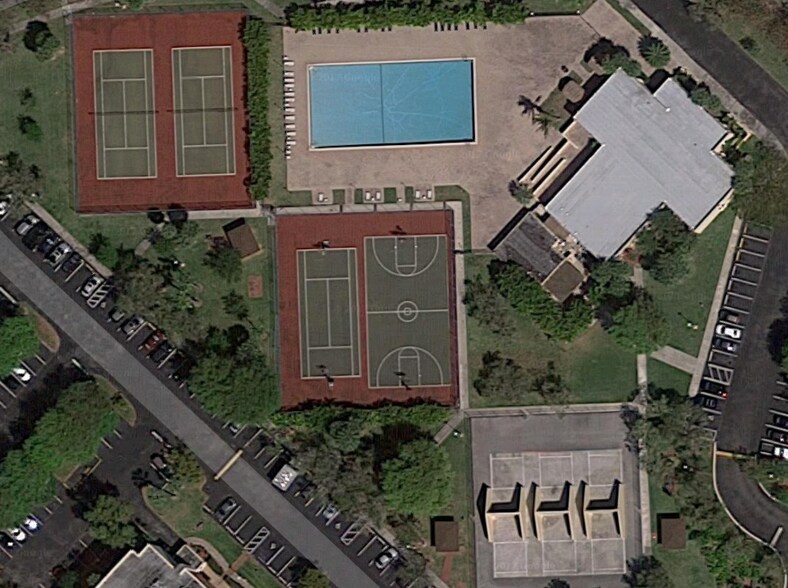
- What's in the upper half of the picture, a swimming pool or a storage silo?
swimming pool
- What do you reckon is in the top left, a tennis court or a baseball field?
tennis court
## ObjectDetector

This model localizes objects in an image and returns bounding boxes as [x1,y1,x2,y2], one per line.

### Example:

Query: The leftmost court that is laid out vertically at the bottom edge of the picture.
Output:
[486,453,527,577]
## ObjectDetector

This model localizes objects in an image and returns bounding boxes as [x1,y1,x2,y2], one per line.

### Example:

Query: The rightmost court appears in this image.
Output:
[583,449,625,575]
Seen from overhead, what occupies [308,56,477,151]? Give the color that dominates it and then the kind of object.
blue swimming pool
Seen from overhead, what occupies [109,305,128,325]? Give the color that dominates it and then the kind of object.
gray car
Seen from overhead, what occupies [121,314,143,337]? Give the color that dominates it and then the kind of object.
gray car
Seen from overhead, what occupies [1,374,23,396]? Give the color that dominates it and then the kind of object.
black car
